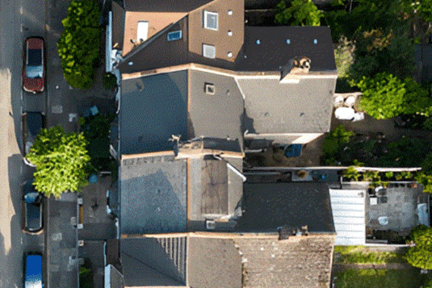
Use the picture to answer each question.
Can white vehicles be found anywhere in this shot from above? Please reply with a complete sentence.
No, there isn't any white vehicle down there.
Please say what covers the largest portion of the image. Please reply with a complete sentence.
The scene is dominated by buildings.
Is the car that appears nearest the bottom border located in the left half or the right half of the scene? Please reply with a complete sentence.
It is on the left.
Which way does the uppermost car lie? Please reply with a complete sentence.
From this overhead view, the uppermost car appears to run vertically.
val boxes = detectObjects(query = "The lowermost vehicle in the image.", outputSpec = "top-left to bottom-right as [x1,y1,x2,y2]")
[22,253,45,288]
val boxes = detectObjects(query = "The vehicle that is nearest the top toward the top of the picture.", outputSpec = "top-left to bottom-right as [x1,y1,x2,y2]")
[20,38,48,95]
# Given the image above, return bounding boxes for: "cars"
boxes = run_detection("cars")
[20,182,46,234]
[19,112,44,166]
[20,38,48,95]
[22,253,45,288]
